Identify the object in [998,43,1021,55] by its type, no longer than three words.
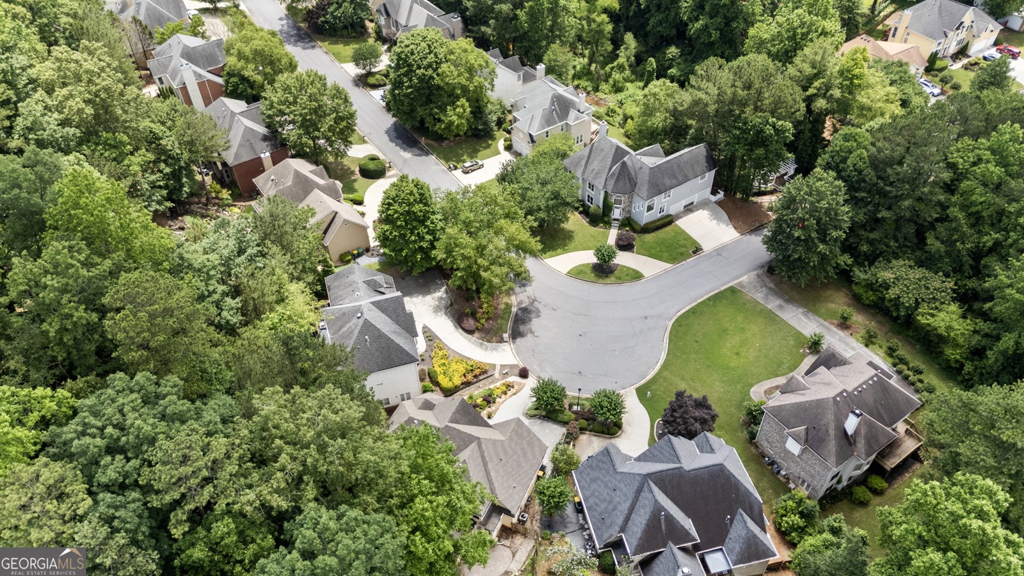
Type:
vehicle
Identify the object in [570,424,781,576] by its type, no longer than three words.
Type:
house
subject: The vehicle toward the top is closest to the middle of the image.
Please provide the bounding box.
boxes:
[460,158,485,172]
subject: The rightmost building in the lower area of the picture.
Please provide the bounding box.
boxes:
[753,339,923,497]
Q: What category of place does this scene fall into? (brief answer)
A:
residential area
